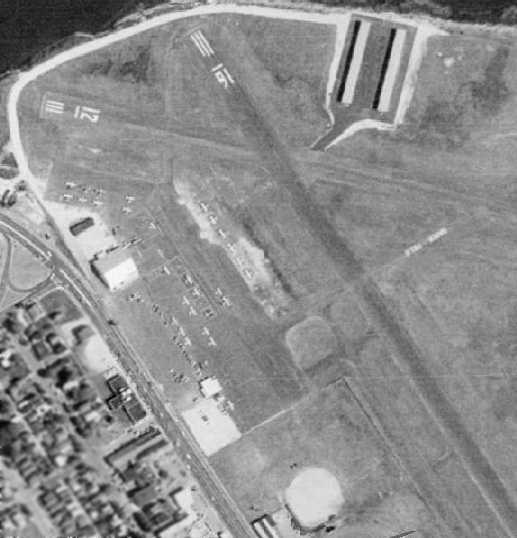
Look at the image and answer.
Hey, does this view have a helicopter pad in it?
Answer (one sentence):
No, there's no helicopter pad here.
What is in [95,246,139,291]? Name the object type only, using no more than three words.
hangar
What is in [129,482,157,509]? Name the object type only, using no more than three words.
building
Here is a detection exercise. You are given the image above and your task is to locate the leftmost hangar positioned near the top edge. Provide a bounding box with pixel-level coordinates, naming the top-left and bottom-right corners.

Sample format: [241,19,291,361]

[342,24,370,105]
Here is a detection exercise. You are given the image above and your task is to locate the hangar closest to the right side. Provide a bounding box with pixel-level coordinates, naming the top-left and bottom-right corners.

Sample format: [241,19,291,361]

[378,30,406,113]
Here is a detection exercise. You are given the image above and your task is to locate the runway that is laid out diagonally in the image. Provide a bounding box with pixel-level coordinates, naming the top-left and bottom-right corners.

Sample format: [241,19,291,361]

[182,23,517,538]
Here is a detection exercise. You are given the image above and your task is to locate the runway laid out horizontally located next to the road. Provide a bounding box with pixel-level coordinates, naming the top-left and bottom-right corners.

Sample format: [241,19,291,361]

[39,91,517,205]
